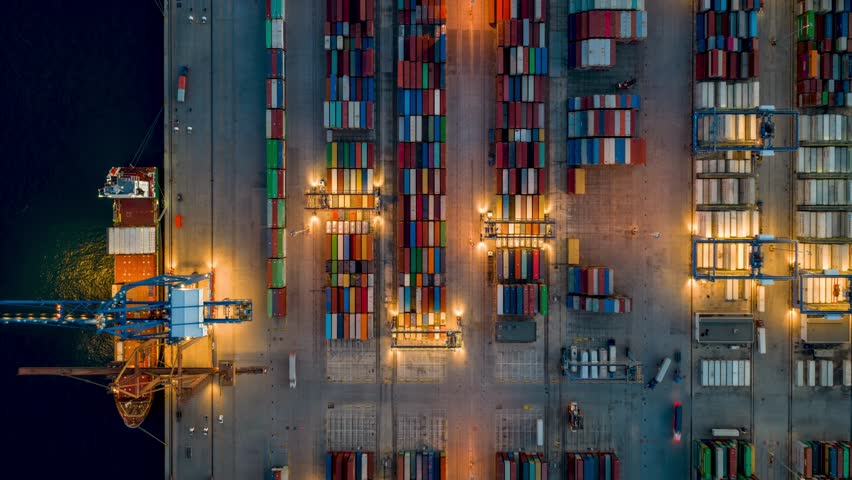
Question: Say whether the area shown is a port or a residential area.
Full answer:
The area seen from above is a port.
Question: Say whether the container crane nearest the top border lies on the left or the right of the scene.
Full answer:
The container crane nearest the top border is on the right side of the image.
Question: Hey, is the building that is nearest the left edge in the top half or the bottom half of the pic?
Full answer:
The bottom half of the photo is where the building that is nearest the left edge is.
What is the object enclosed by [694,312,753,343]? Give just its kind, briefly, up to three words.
building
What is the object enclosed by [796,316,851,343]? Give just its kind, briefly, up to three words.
building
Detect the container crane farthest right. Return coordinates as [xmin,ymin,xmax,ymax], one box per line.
[790,260,852,319]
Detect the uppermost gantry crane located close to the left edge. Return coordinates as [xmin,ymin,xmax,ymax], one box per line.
[0,265,254,346]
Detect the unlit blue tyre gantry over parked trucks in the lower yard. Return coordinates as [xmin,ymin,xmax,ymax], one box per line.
[561,346,641,381]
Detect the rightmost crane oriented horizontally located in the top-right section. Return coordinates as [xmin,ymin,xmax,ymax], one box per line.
[691,105,798,157]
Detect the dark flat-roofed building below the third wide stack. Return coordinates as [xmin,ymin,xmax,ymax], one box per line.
[494,319,536,343]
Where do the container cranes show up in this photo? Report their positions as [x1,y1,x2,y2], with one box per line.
[305,186,381,215]
[790,260,852,319]
[561,346,641,381]
[479,214,556,242]
[691,227,798,285]
[691,105,798,157]
[0,265,254,346]
[18,329,265,398]
[389,317,462,354]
